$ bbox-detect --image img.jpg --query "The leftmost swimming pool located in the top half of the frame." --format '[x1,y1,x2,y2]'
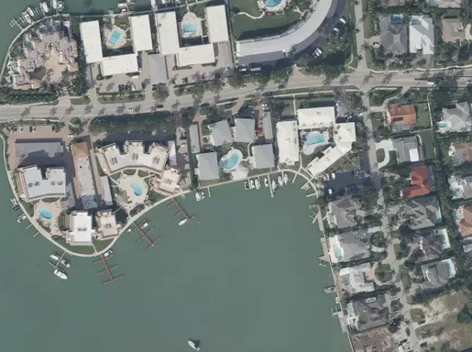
[104,26,127,48]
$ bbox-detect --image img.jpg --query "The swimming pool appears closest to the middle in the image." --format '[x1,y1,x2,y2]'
[222,148,244,173]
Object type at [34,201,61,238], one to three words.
swimming pool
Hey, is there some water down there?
Yes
